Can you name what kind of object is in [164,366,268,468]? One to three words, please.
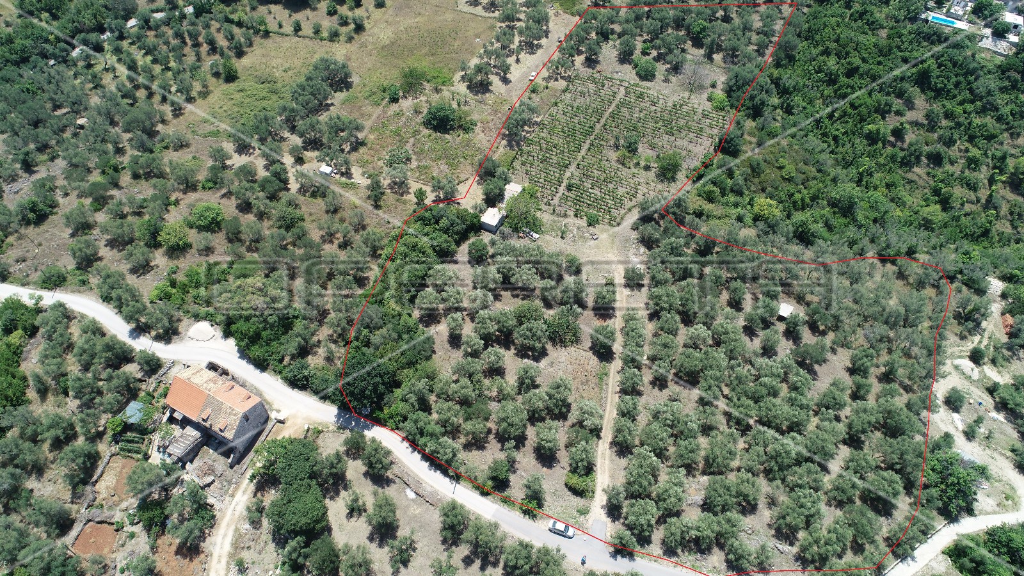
house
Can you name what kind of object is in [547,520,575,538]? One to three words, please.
car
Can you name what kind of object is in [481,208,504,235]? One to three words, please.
shed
